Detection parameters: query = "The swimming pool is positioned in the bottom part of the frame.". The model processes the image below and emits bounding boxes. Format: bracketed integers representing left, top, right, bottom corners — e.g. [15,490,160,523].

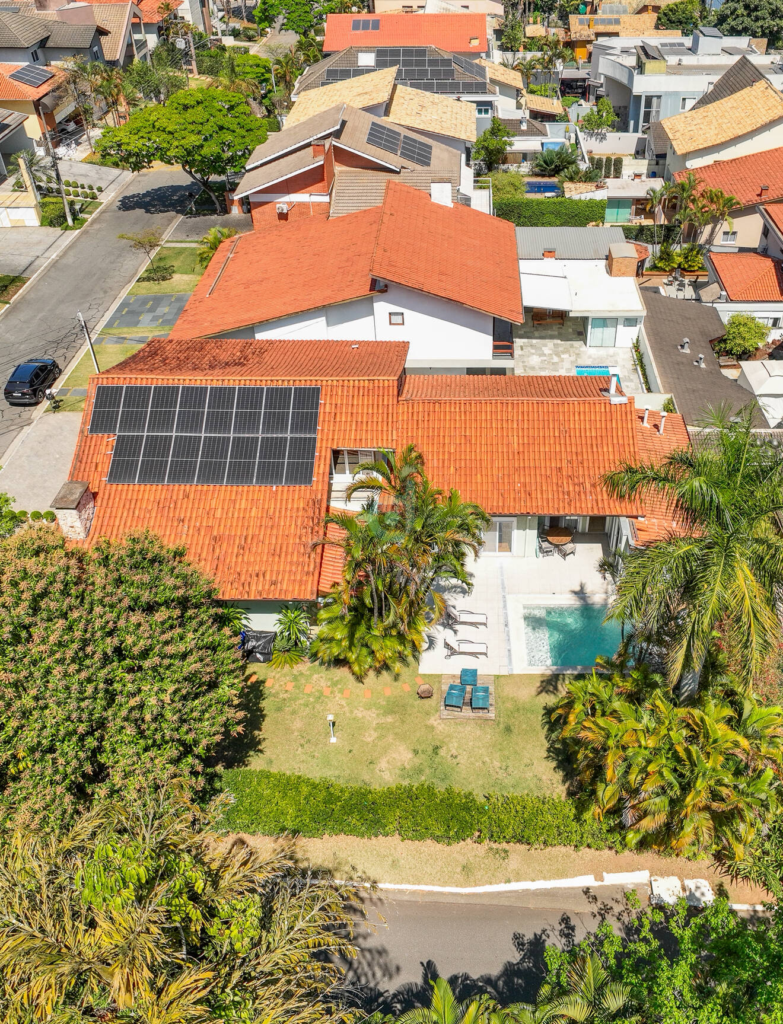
[523,604,660,665]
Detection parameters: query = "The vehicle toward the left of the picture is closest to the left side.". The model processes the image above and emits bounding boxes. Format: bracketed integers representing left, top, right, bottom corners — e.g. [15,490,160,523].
[0,358,60,404]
